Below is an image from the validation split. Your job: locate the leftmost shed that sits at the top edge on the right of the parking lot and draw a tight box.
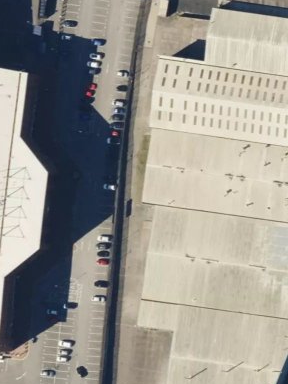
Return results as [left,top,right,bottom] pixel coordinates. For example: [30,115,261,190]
[145,0,170,47]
